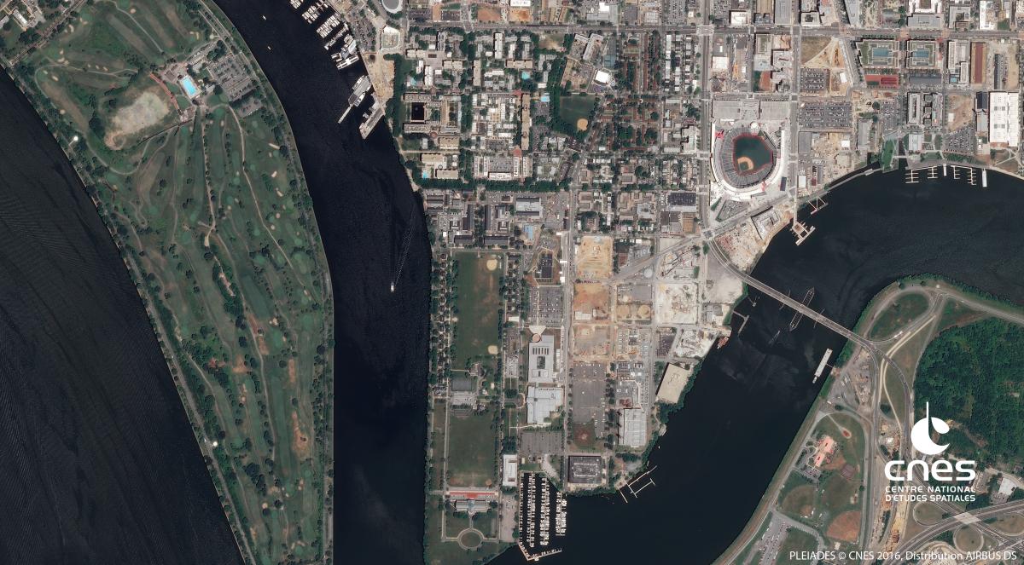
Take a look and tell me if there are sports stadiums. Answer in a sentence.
Yes, the frame does contain a sports stadium.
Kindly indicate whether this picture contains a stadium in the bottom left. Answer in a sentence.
No, I can find no stadium in the bottom left.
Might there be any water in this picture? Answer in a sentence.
Yes, water shows up in the scene.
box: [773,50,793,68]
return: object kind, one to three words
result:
building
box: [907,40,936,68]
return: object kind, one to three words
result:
building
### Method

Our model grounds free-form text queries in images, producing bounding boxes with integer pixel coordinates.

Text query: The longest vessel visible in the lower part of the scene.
[815,349,831,377]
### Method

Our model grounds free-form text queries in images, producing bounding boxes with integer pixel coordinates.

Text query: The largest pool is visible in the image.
[181,74,199,96]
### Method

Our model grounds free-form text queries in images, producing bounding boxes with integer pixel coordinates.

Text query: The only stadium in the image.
[711,119,785,199]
